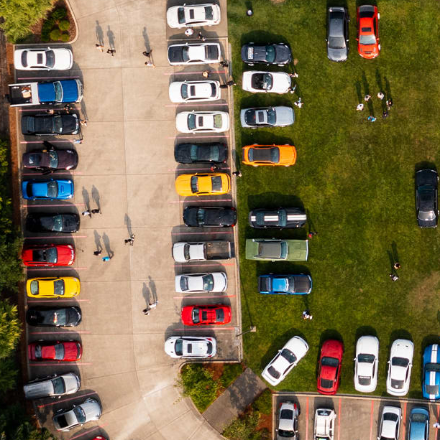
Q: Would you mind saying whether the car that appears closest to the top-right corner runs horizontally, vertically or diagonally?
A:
vertically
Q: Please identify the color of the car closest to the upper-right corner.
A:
red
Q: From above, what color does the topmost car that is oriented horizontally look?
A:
white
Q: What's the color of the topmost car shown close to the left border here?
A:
white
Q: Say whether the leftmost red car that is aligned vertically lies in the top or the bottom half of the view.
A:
bottom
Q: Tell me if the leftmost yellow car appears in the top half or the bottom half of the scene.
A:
bottom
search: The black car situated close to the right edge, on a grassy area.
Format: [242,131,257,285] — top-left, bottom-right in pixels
[413,169,439,227]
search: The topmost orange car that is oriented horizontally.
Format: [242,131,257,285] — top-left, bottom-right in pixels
[241,141,298,168]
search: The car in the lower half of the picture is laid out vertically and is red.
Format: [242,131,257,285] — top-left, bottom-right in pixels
[317,338,345,395]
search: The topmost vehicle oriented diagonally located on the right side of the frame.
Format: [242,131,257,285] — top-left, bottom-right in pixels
[262,335,308,389]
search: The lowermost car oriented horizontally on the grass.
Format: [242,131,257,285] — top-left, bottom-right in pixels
[256,271,313,296]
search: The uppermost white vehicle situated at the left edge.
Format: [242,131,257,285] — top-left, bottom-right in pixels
[14,45,74,71]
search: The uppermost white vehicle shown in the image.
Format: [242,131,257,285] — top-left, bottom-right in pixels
[167,2,221,28]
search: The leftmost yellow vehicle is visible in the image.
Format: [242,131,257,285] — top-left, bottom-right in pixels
[25,274,82,300]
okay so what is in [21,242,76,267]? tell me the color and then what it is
red car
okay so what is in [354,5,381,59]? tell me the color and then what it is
red car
